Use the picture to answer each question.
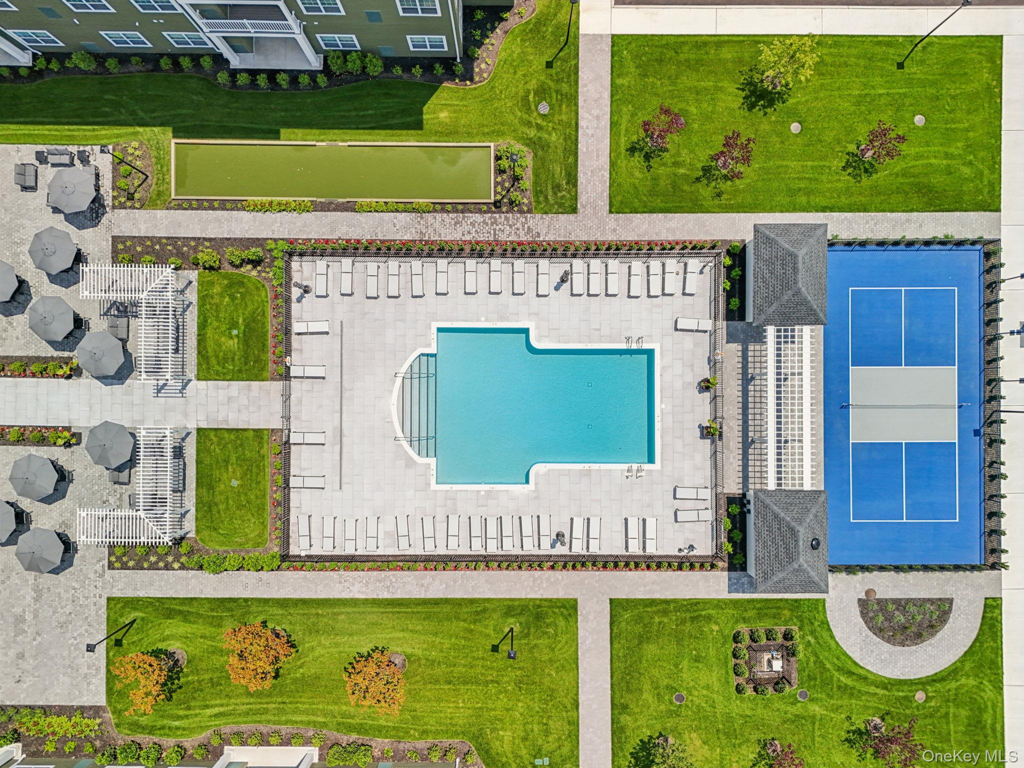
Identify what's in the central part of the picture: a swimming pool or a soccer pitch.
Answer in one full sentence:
It is a swimming pool that can be seen in the central part of the picture.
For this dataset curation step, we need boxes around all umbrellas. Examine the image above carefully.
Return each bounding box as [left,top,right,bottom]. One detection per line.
[10,453,60,501]
[560,271,569,283]
[0,498,20,541]
[50,166,98,215]
[293,282,311,293]
[29,226,79,276]
[86,420,135,469]
[77,330,126,378]
[27,293,78,343]
[0,257,23,304]
[556,531,566,546]
[16,525,66,574]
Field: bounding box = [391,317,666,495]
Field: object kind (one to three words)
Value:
swimming pool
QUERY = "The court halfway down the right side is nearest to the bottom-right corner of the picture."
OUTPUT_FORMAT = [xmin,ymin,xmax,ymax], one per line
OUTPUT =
[824,245,984,565]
